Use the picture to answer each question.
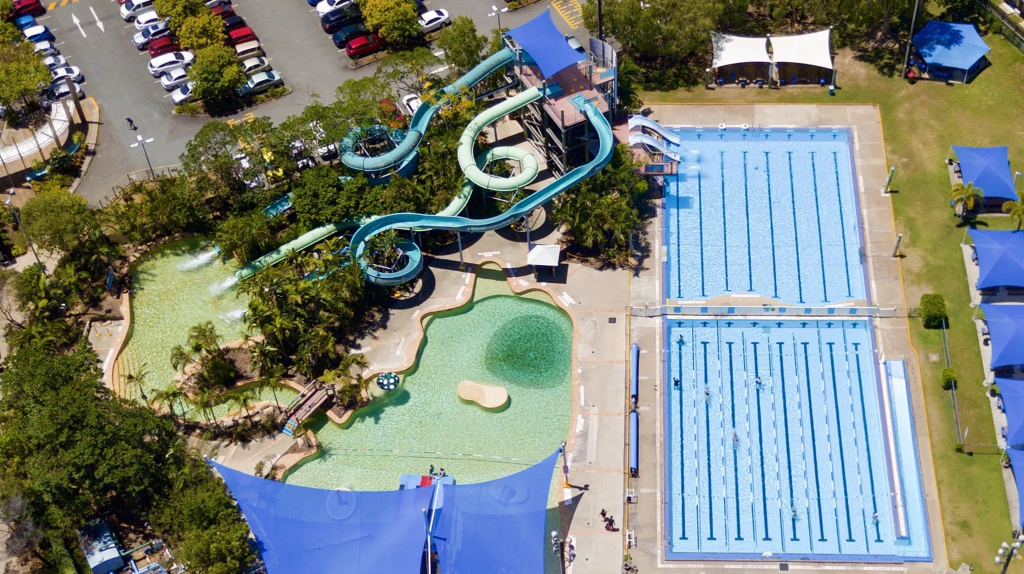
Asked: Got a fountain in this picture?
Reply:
Yes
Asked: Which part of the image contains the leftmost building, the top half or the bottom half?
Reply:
bottom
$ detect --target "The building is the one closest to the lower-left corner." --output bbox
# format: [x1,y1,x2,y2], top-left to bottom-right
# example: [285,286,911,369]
[77,512,136,574]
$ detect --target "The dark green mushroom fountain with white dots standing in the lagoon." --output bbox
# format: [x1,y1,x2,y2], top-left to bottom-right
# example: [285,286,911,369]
[375,372,401,396]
